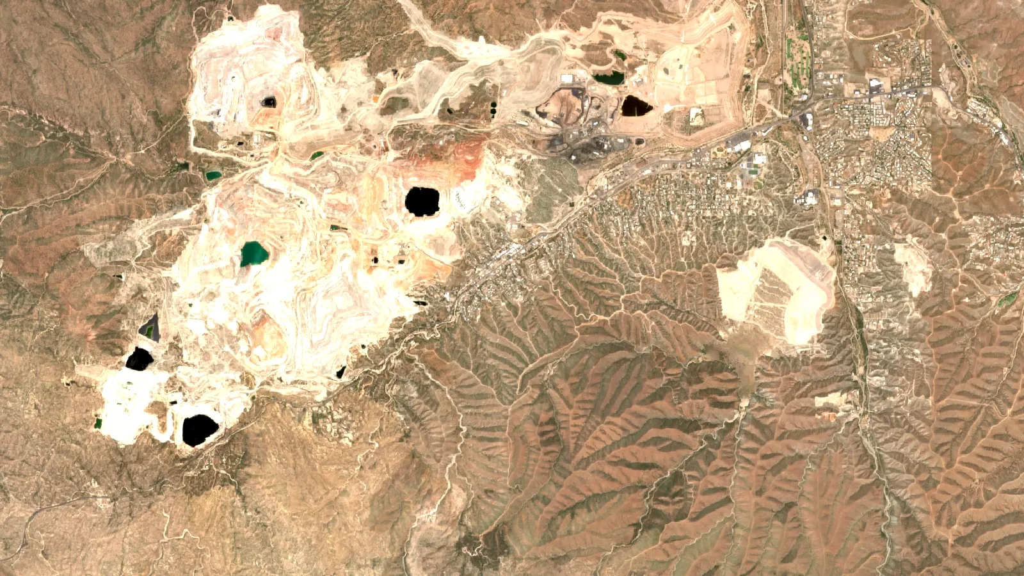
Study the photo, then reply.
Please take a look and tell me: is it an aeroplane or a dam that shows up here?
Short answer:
dam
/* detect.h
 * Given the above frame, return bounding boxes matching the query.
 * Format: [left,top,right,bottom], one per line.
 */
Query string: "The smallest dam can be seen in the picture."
[718,241,836,346]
